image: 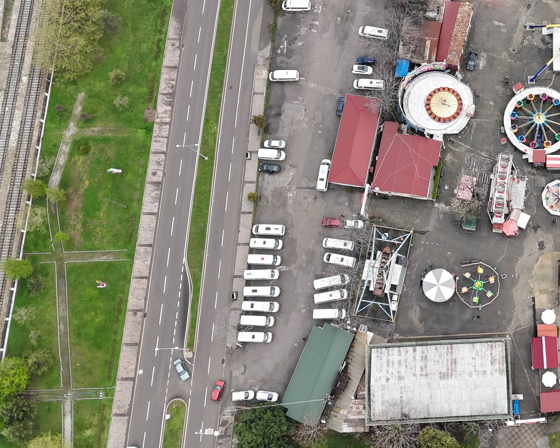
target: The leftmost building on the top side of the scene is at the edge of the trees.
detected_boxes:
[329,93,382,188]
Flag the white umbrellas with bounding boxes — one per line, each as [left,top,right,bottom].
[542,371,557,387]
[541,309,557,324]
